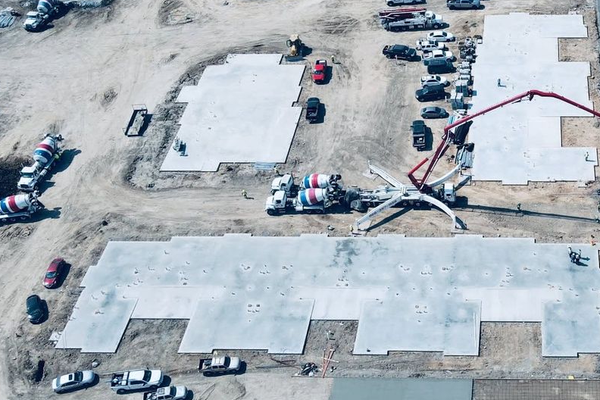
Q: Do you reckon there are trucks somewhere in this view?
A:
Yes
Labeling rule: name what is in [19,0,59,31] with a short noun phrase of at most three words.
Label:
truck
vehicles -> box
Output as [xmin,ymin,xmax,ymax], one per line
[41,260,67,289]
[284,34,303,62]
[381,44,418,60]
[51,370,97,395]
[0,193,47,226]
[385,0,418,6]
[420,78,450,90]
[411,124,427,149]
[427,33,454,44]
[17,133,64,192]
[19,0,59,31]
[421,51,454,64]
[107,367,166,396]
[192,353,246,375]
[422,59,454,76]
[419,40,447,53]
[270,174,346,202]
[25,292,47,327]
[380,9,441,31]
[311,60,327,84]
[140,385,193,400]
[305,99,321,122]
[419,109,450,122]
[413,86,446,104]
[356,89,600,228]
[447,0,480,11]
